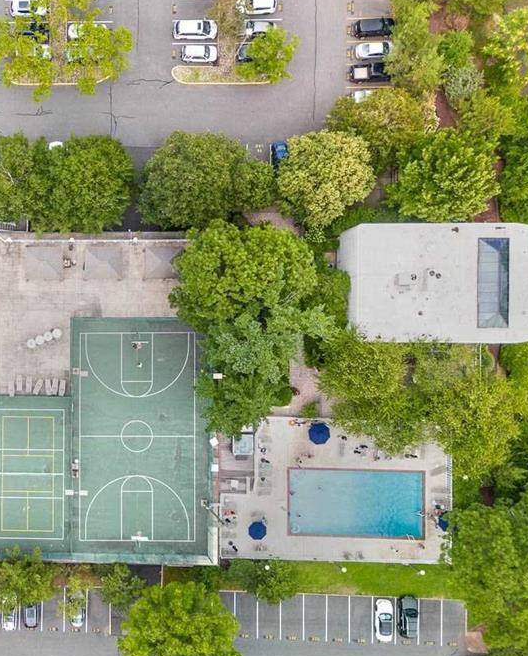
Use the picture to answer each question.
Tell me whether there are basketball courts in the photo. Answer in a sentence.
Yes, a basketball court can be made out from above.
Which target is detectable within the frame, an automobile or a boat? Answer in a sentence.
Looking from above, you can make out an automobile.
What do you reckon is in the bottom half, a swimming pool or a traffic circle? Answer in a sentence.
There is a swimming pool in the bottom half.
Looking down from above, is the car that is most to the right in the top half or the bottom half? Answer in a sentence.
You can find the car that is most to the right in the bottom half.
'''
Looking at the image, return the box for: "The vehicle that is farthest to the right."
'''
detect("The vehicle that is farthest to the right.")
[397,598,419,639]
